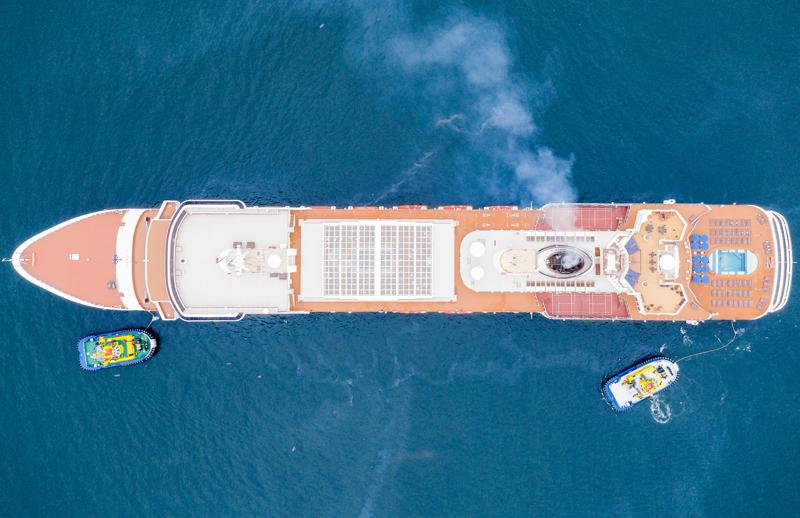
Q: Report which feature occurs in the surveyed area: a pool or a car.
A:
pool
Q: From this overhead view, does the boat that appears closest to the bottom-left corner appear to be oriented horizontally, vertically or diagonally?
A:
horizontally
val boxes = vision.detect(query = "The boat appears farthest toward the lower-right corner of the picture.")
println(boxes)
[599,359,683,415]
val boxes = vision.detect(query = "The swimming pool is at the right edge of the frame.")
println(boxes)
[706,248,760,277]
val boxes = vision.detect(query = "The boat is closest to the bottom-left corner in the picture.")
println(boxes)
[76,330,159,373]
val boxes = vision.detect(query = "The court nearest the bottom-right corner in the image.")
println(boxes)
[538,294,634,320]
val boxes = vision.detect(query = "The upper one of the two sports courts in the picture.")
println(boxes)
[538,204,636,230]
